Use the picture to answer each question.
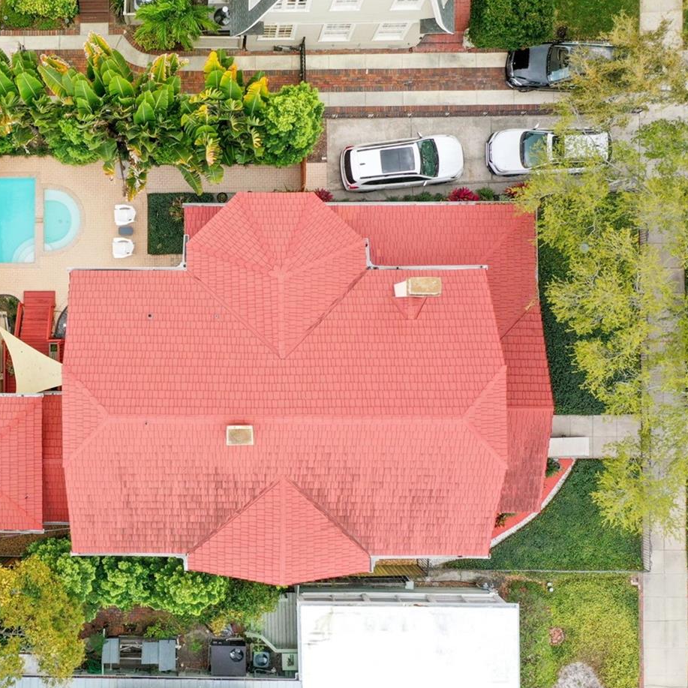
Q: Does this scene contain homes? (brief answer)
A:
Yes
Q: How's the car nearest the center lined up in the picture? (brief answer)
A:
from side to side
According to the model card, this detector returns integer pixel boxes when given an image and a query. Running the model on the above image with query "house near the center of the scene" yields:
[39,190,588,585]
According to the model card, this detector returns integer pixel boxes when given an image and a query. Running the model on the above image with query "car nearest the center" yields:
[340,128,464,193]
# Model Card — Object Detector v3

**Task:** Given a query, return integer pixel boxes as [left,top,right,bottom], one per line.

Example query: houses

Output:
[0,585,525,688]
[39,190,588,585]
[233,0,458,49]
